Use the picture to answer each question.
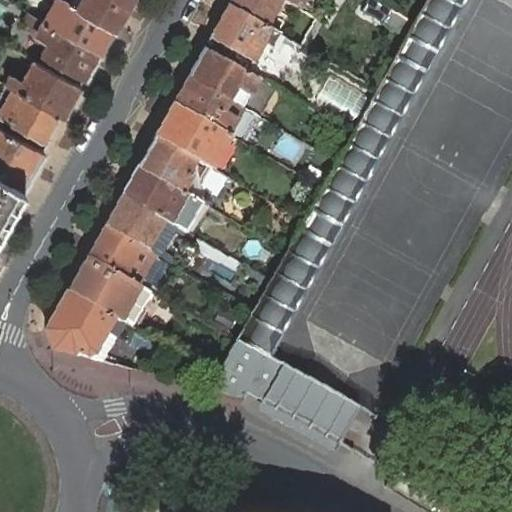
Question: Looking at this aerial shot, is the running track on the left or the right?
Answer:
right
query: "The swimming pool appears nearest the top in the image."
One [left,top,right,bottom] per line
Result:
[273,131,306,166]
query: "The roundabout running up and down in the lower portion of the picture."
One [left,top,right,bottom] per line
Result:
[0,390,60,512]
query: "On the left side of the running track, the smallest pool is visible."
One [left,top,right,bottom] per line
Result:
[243,240,262,256]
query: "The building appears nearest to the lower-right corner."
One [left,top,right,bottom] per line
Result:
[260,362,379,446]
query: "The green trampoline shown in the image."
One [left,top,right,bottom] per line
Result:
[233,190,252,209]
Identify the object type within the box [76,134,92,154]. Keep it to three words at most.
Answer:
car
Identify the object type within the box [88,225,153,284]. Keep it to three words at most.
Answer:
house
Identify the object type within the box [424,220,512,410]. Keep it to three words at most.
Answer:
running track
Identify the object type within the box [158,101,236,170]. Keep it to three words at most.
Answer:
house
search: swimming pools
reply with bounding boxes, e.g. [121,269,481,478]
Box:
[273,131,306,166]
[243,240,262,256]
